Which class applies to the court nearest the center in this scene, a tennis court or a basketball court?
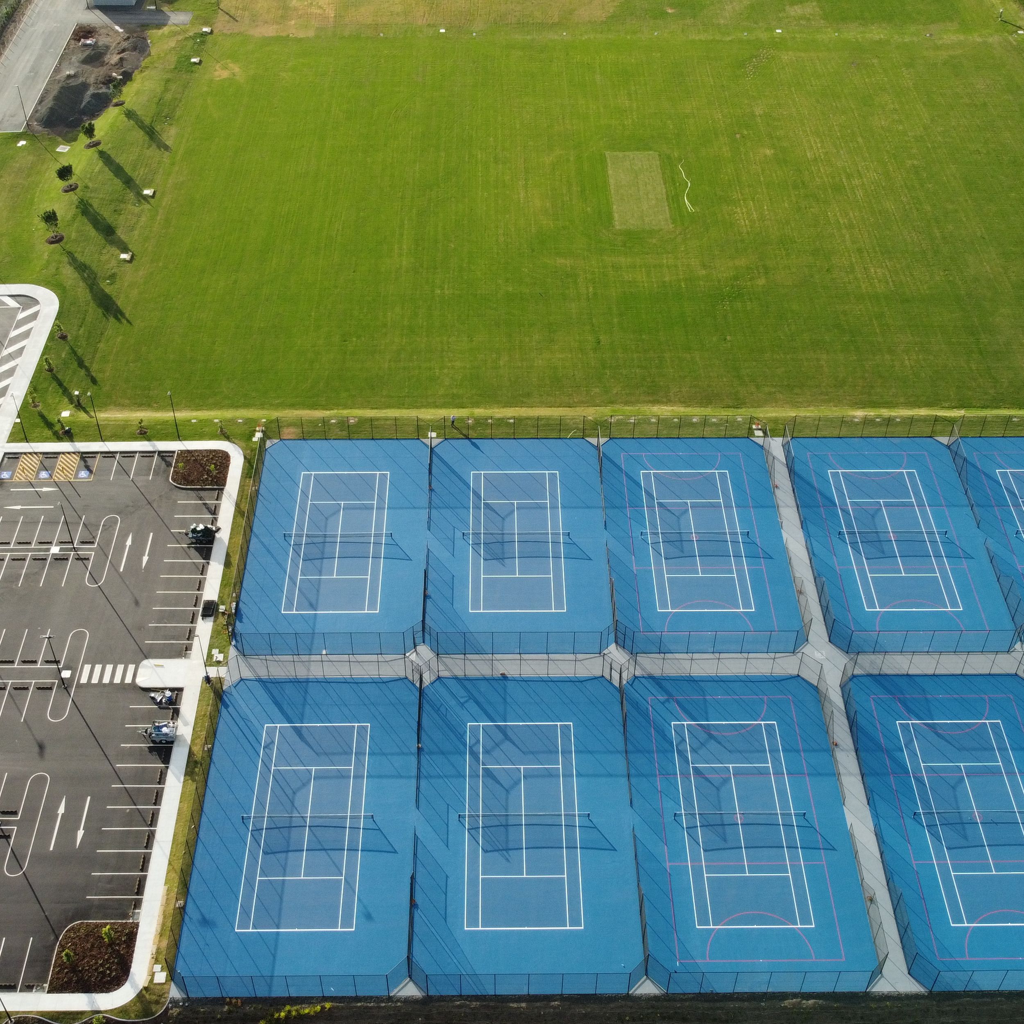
tennis court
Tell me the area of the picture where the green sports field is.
top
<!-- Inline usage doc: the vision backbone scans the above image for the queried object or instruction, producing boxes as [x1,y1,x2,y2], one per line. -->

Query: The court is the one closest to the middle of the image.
[423,438,615,654]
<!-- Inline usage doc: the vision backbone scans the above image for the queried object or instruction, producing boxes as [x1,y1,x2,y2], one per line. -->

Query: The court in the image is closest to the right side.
[948,437,1024,642]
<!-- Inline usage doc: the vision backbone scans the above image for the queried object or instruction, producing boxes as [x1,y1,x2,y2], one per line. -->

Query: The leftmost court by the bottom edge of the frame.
[172,677,418,997]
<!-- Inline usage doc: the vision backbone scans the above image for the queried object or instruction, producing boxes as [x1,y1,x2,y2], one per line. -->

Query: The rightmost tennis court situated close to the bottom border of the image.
[841,674,1024,990]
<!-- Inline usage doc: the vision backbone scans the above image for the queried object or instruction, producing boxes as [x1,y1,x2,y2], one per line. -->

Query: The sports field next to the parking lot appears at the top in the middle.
[114,40,1024,401]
